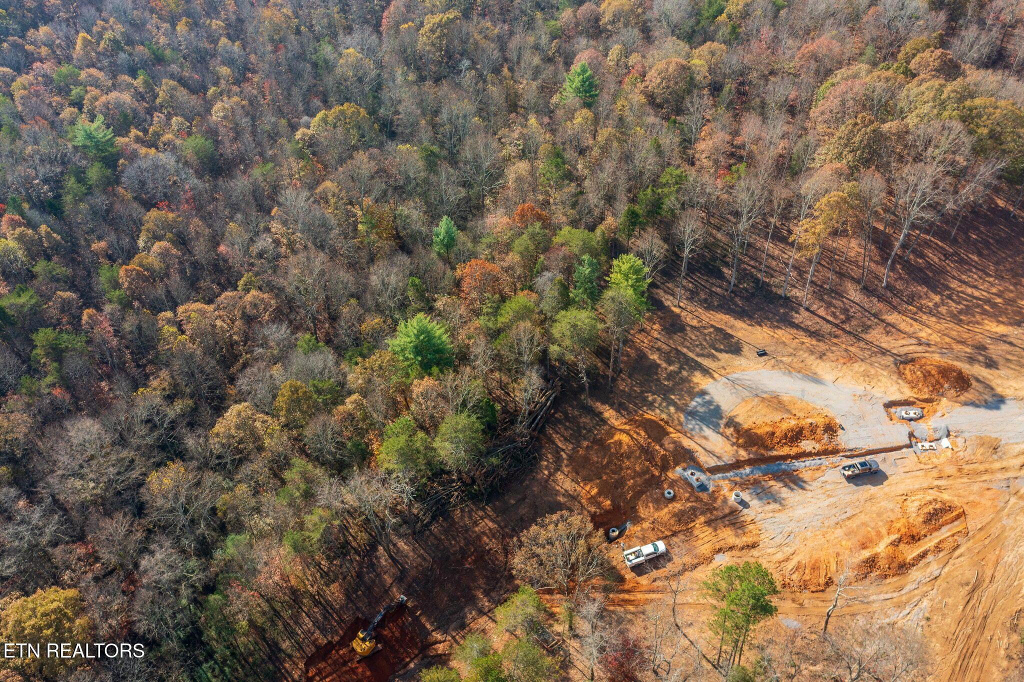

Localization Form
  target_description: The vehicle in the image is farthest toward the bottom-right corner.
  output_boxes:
[841,461,883,480]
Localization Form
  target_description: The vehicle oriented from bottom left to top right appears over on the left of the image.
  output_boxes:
[351,600,402,661]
